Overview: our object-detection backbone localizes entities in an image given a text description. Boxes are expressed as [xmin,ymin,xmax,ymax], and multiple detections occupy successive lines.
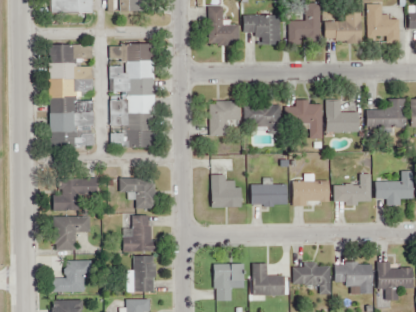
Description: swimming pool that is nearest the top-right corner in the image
[328,137,352,152]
